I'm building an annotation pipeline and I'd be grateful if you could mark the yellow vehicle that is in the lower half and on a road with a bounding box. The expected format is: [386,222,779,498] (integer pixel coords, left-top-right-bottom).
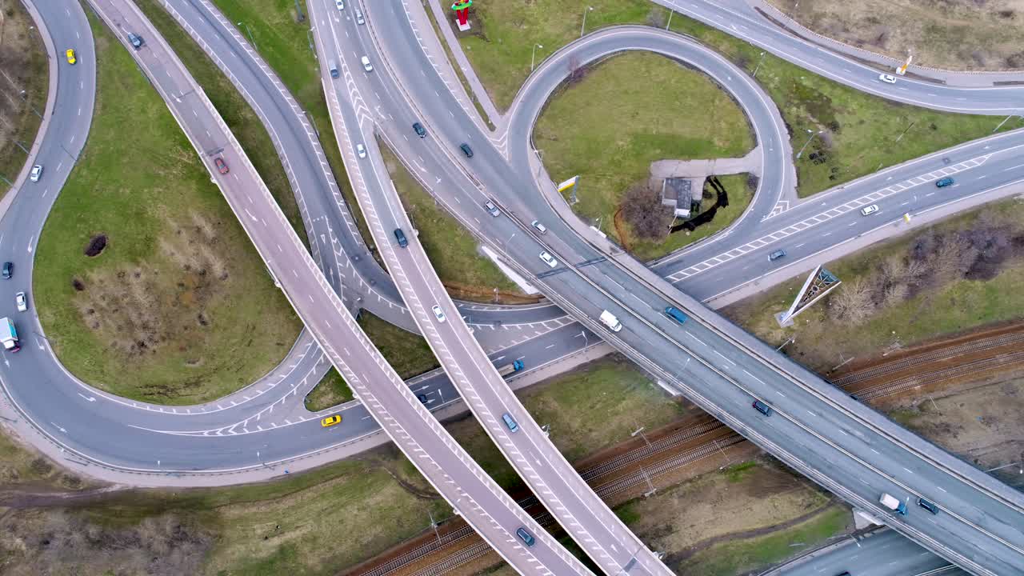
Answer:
[320,414,342,427]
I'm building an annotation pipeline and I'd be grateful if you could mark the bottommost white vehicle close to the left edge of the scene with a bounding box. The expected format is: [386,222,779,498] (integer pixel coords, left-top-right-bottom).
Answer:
[0,314,22,351]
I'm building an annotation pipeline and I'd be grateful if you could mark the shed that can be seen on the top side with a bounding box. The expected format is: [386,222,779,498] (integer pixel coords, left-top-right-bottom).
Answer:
[661,178,691,221]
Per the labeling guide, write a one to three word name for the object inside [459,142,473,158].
car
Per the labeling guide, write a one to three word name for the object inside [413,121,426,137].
vehicle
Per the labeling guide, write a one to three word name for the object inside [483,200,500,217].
car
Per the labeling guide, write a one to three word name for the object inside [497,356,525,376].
vehicle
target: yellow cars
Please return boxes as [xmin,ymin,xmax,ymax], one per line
[66,49,76,63]
[320,414,342,427]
